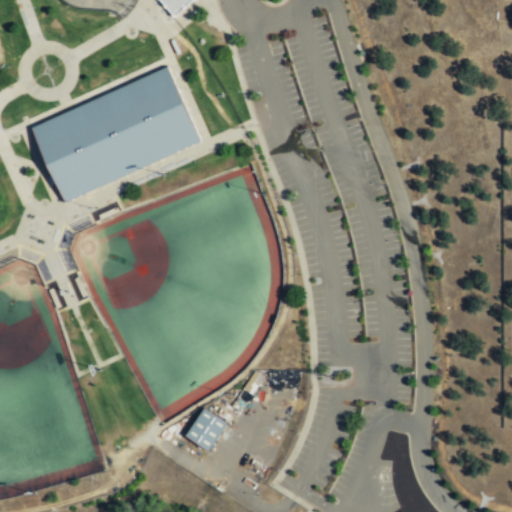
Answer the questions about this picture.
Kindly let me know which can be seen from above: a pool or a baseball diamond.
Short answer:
baseball diamond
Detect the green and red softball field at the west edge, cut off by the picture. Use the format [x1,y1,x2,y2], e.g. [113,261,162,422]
[0,258,107,500]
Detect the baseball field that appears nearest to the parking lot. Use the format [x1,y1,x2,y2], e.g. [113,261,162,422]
[68,164,284,425]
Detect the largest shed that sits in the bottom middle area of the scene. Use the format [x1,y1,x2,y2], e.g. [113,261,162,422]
[186,408,226,451]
